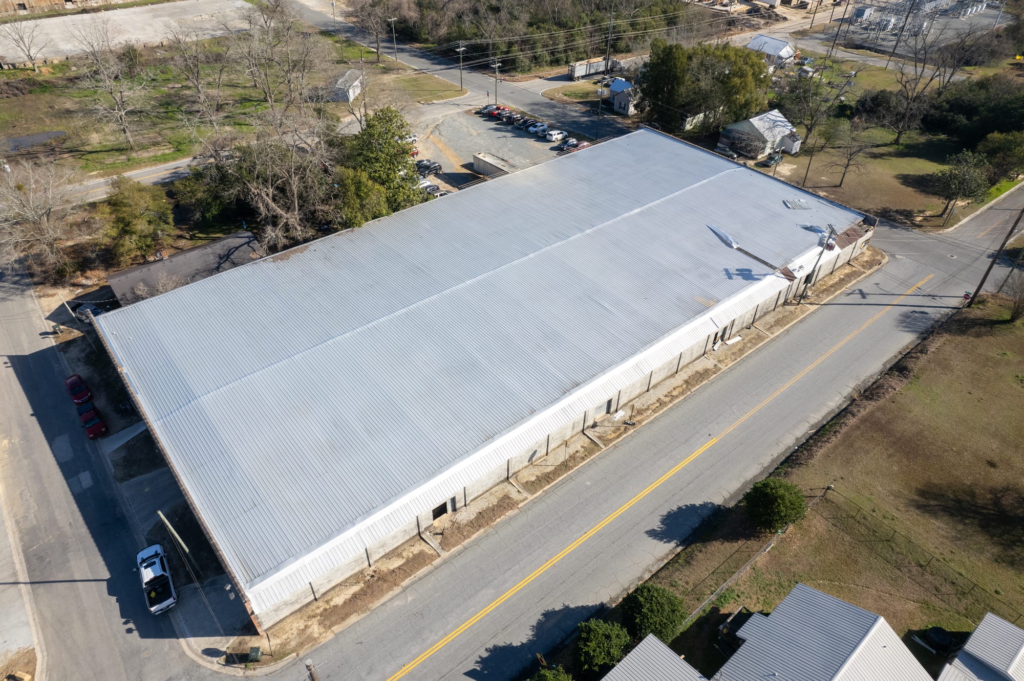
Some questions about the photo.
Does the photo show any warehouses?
Yes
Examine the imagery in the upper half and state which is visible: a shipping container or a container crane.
shipping container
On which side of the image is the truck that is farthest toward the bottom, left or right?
left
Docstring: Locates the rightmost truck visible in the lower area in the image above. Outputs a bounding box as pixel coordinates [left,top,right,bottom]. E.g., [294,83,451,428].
[132,542,181,617]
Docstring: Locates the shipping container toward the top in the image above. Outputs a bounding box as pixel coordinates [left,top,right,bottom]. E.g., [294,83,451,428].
[472,148,523,178]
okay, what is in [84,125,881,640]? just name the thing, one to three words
warehouse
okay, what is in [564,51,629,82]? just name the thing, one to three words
truck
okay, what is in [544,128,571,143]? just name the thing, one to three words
car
